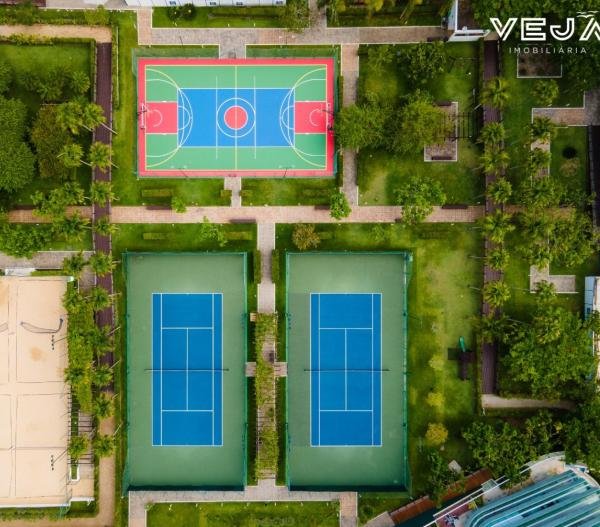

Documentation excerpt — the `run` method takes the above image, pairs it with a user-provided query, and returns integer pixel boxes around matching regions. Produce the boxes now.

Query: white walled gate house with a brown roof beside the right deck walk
[448,0,490,41]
